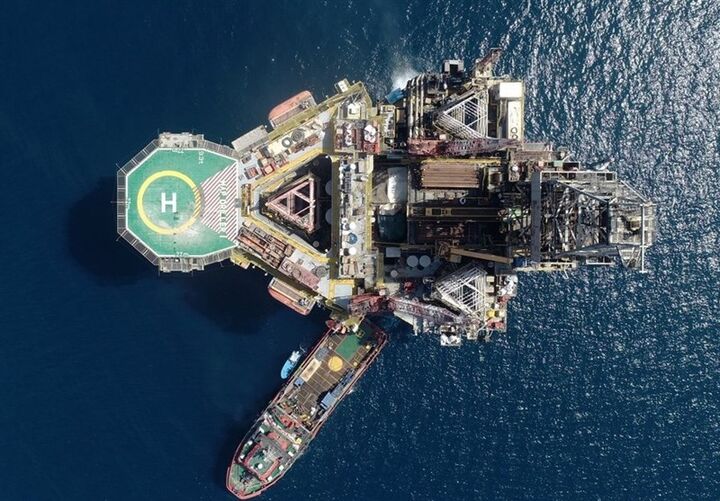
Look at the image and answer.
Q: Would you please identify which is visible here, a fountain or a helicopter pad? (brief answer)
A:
helicopter pad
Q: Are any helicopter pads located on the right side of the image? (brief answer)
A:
No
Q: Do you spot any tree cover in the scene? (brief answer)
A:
No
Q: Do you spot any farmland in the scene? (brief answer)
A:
No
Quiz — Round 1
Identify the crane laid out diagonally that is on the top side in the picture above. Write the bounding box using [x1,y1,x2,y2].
[470,47,503,83]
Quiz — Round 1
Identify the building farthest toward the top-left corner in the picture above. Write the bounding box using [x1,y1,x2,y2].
[231,124,271,157]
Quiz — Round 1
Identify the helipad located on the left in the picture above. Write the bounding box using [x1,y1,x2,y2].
[115,132,240,273]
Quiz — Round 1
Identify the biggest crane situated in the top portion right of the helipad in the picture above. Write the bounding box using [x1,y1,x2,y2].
[391,134,520,165]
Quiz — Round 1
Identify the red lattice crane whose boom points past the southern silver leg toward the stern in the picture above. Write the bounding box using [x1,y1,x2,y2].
[365,287,469,323]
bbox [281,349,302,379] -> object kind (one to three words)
boat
